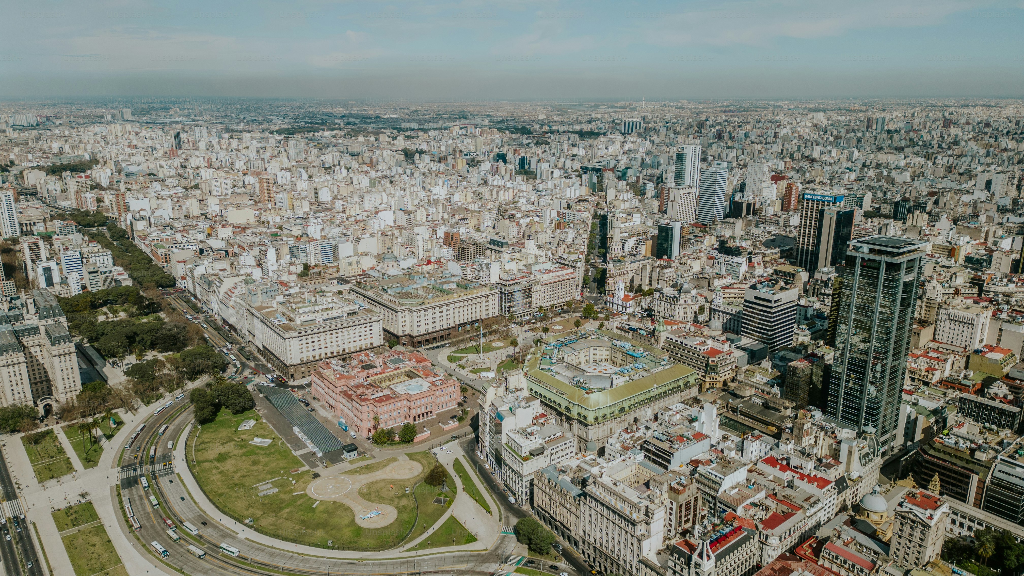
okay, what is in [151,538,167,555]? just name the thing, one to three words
vehicle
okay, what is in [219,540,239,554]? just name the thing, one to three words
vehicle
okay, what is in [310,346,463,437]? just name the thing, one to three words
building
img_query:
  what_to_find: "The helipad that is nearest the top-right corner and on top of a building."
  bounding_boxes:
[859,238,916,250]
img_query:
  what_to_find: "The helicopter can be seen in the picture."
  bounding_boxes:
[360,503,387,517]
